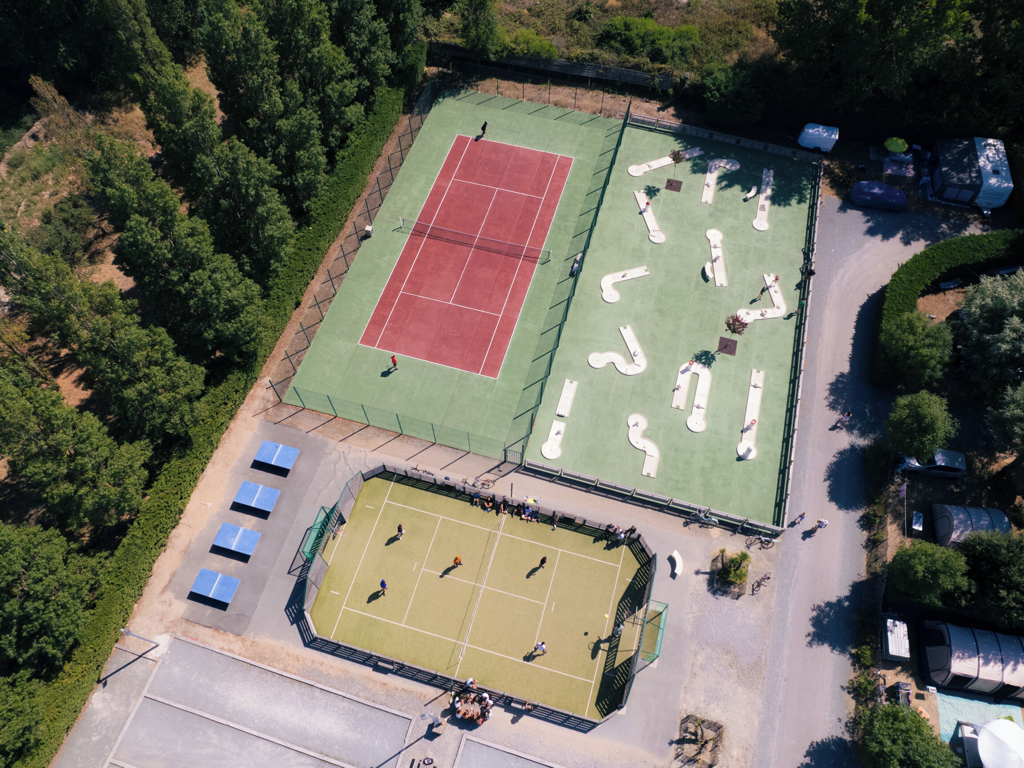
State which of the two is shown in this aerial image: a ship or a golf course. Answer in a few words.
golf course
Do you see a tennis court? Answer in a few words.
Yes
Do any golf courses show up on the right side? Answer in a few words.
Yes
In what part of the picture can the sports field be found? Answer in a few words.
bottom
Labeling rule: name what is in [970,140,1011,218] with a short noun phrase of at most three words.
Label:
camper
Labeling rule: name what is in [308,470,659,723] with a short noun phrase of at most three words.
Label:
sports field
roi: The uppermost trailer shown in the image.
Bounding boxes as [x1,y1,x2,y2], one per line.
[787,124,839,152]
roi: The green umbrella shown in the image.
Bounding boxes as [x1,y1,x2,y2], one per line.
[883,138,908,164]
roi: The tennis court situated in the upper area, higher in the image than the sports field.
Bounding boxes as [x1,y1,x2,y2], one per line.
[282,88,623,465]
